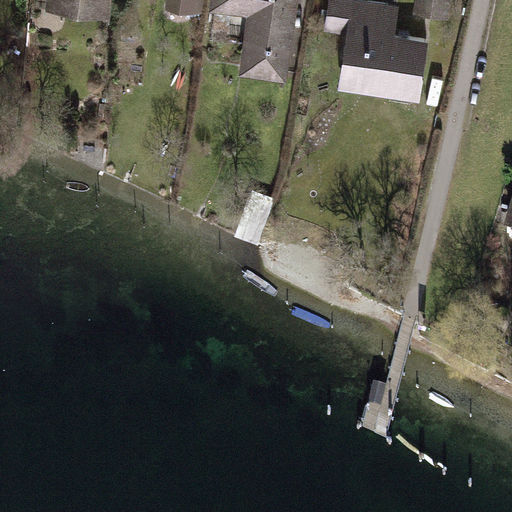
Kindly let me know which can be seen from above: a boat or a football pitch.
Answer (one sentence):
There is a boat in the scene.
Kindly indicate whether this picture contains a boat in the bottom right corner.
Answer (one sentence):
Yes, you'll find a boat in the bottom right corner.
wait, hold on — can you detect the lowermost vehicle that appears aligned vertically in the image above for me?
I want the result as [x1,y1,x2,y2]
[499,188,512,210]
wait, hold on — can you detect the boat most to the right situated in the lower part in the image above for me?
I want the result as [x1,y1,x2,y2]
[428,390,454,406]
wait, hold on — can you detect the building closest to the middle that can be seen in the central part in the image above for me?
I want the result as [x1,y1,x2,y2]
[234,188,273,244]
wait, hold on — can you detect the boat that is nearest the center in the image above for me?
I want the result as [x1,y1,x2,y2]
[242,264,280,296]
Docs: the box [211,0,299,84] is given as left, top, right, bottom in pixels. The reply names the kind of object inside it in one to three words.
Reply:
house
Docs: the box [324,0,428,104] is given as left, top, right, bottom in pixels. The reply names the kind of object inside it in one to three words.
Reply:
house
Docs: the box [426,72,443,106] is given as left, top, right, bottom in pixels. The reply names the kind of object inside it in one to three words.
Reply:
camper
